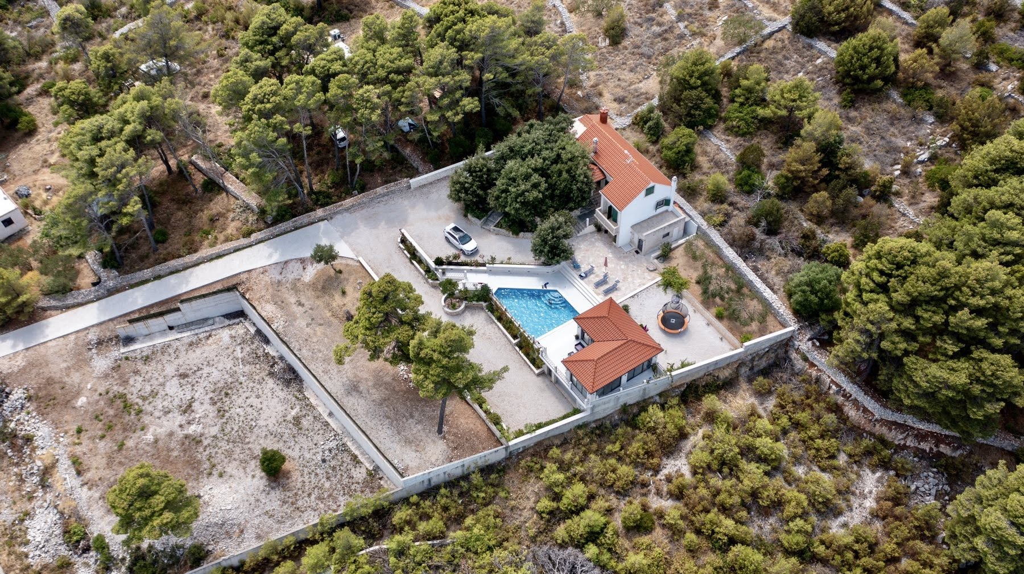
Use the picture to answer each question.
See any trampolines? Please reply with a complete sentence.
Yes, a trampoline is visible in the scene.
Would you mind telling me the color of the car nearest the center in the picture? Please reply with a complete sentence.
The car nearest the center looks white in the image.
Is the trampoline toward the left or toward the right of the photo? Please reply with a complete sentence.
It is on the right.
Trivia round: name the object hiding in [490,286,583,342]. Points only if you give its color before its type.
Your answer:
blue swimming pool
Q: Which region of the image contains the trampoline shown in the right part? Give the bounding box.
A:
[656,295,691,338]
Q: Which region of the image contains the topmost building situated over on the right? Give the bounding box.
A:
[562,112,691,254]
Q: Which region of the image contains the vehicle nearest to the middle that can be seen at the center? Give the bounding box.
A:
[442,225,478,255]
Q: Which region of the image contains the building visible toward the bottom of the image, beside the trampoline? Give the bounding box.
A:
[560,296,666,406]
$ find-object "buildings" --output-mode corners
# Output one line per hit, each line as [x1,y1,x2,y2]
[562,112,691,254]
[0,185,23,234]
[560,296,666,406]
